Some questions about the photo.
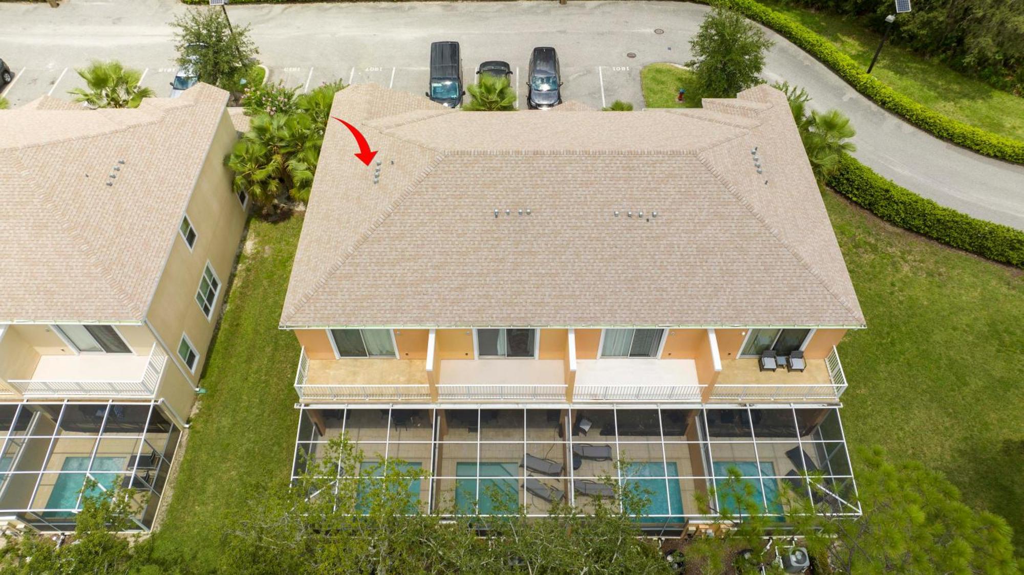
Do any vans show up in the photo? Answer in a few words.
Yes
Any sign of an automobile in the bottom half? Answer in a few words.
No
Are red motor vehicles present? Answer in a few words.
No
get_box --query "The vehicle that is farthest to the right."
[525,50,566,111]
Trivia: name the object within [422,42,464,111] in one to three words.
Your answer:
van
